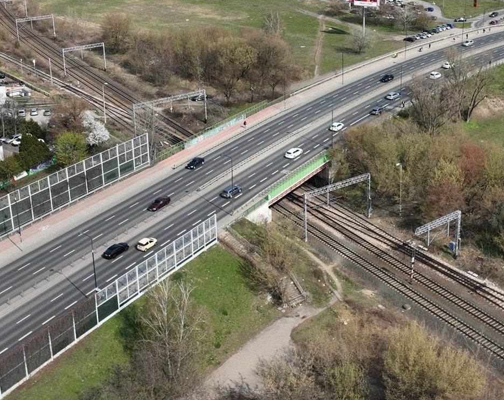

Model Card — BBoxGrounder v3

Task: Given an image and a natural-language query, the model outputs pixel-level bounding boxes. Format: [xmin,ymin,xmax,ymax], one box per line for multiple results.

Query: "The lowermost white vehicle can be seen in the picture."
[134,235,159,251]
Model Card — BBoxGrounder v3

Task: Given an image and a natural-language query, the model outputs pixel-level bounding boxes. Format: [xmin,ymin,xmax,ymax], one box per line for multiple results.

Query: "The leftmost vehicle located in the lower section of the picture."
[101,241,130,259]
